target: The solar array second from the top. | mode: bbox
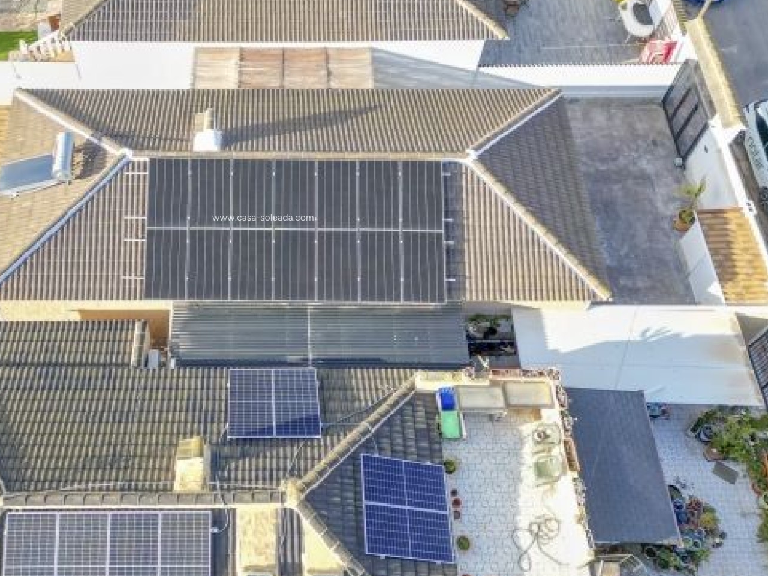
[228,369,320,436]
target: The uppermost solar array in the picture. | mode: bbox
[121,161,453,303]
